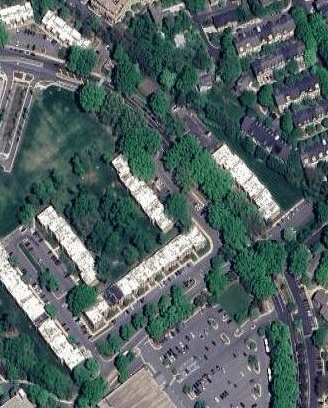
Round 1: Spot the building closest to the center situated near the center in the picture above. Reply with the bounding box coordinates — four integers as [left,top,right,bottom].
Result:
[114,153,176,238]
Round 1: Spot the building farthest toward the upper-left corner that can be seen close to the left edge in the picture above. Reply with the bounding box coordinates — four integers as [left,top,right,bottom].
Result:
[0,2,32,29]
